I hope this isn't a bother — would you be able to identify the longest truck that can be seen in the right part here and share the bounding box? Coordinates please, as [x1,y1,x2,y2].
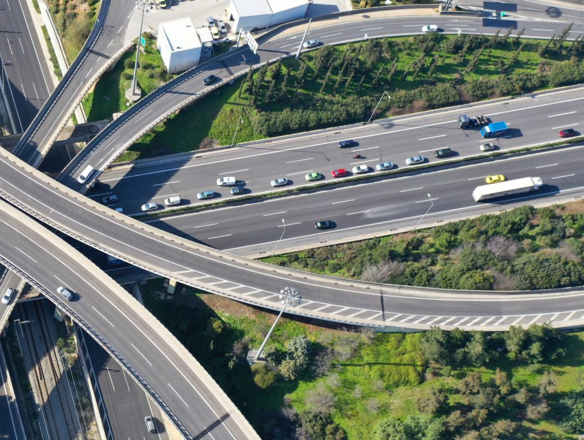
[479,176,545,201]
